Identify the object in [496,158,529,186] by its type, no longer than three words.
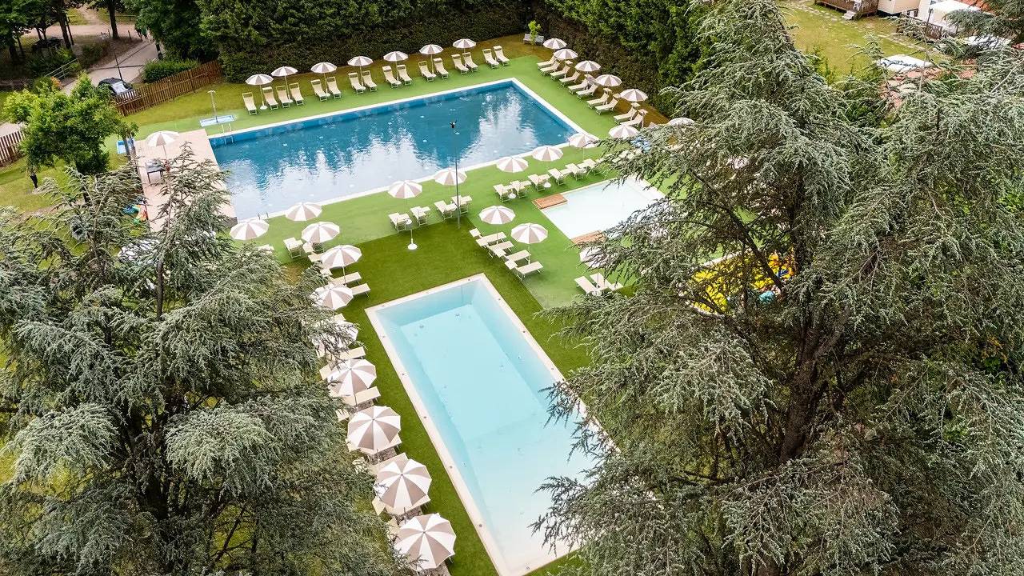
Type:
umbrella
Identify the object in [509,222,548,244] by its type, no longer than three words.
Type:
umbrella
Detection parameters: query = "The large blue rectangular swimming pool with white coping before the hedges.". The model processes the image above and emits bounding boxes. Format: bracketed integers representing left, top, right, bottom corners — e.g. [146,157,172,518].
[208,78,590,222]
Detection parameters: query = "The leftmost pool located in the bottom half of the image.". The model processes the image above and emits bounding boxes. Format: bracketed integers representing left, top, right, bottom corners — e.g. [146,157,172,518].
[365,274,649,576]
